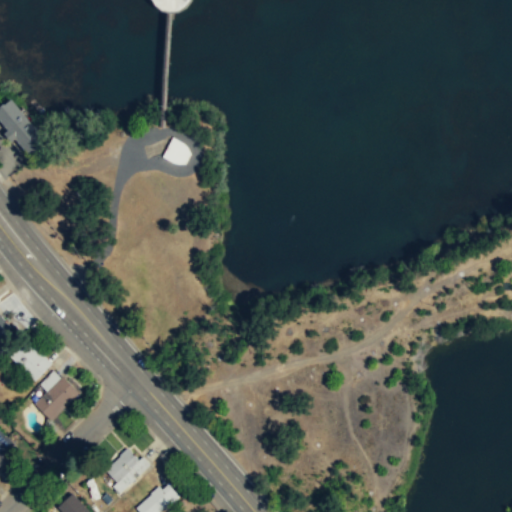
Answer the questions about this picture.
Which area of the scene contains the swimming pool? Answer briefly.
bottom left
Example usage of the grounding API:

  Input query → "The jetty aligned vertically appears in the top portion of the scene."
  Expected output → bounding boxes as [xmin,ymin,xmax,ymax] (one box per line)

[152,0,193,129]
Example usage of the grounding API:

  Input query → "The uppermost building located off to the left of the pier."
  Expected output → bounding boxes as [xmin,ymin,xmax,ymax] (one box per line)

[0,91,35,152]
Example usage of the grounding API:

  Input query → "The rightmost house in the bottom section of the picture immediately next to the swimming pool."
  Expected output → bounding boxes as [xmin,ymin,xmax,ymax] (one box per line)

[36,370,78,420]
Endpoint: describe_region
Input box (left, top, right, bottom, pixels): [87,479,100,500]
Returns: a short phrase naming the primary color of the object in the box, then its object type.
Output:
white vehicle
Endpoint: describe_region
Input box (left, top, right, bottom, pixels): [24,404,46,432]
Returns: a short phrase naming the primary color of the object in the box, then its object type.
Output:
white swimming pool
